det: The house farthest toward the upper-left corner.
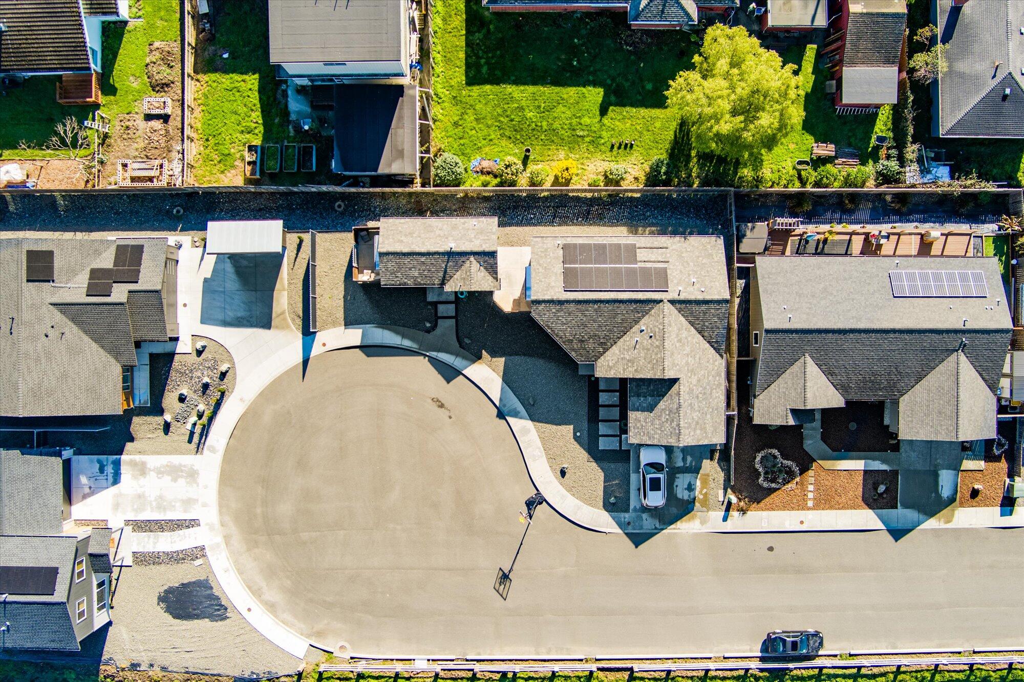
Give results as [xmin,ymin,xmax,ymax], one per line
[0,0,130,81]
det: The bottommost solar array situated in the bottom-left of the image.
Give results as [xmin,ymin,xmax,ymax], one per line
[0,567,59,595]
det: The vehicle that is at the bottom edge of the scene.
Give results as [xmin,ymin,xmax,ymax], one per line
[767,628,822,659]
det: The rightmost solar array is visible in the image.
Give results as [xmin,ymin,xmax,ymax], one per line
[889,271,988,296]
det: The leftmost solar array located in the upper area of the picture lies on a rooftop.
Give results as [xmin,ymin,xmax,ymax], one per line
[26,250,66,286]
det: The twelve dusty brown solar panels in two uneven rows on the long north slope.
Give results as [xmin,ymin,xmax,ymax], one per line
[562,243,669,290]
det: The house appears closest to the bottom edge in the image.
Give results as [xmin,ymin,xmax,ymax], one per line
[0,525,127,653]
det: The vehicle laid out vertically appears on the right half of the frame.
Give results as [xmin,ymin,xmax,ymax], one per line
[639,446,669,508]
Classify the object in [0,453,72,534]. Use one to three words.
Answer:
building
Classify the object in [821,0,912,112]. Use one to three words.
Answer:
building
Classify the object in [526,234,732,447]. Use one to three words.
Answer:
house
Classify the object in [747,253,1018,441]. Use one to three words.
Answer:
house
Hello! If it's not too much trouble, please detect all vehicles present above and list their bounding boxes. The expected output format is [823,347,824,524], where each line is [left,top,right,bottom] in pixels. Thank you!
[767,628,822,659]
[639,446,669,508]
